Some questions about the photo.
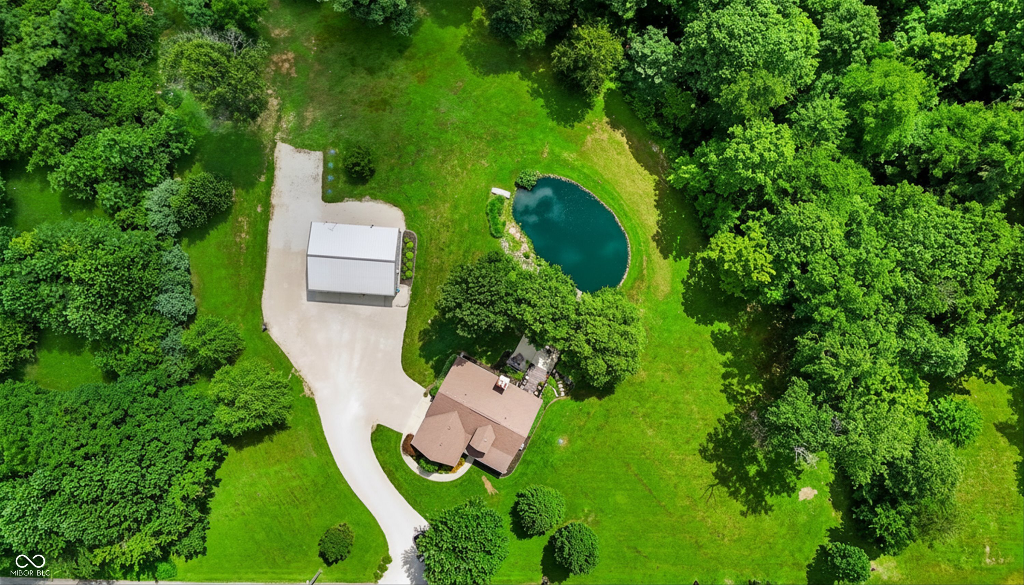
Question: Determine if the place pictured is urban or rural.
rural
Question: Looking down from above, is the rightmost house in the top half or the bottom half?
bottom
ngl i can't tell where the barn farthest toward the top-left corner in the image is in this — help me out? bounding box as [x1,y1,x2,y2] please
[306,221,401,297]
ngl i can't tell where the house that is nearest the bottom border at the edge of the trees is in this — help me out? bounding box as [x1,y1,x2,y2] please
[410,356,543,473]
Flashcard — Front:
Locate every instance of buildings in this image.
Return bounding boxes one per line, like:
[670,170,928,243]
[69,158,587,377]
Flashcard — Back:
[306,221,401,297]
[410,356,543,473]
